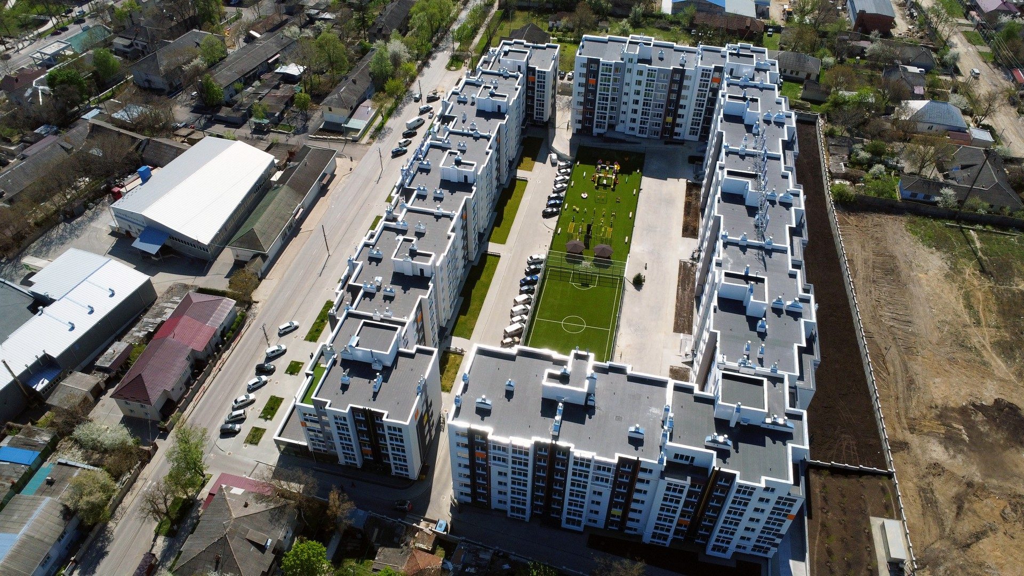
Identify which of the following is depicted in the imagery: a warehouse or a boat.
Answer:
warehouse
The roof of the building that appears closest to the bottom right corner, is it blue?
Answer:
No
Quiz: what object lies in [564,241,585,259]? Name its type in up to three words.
gazebo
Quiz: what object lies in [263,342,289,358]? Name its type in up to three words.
vehicle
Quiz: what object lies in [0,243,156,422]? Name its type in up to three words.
warehouse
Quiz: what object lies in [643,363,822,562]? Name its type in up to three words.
building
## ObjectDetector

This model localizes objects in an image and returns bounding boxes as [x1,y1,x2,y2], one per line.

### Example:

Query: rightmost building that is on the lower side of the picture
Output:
[874,519,906,569]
